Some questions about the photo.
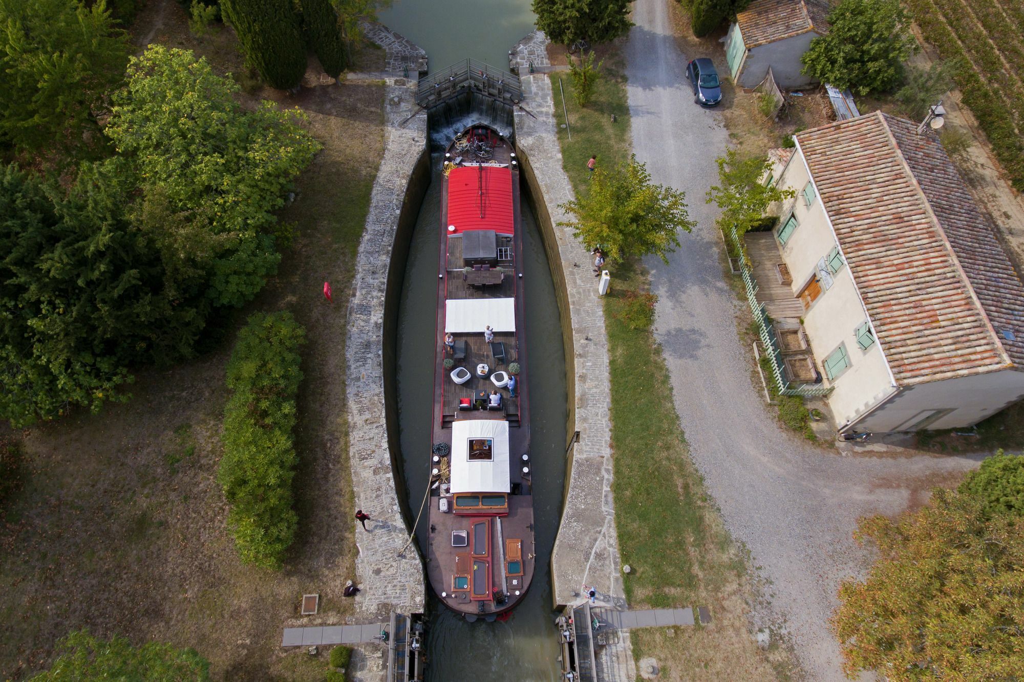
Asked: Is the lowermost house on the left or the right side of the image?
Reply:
right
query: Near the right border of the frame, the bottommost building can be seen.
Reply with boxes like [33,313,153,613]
[750,105,1024,430]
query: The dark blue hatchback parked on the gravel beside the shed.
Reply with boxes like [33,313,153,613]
[684,56,724,107]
